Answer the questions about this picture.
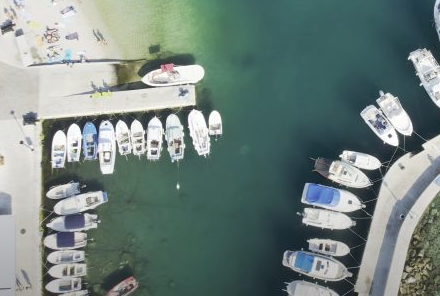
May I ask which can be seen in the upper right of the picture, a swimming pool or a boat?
boat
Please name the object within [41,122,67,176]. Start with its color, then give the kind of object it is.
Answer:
white boat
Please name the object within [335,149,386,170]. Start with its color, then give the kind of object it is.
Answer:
white boat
